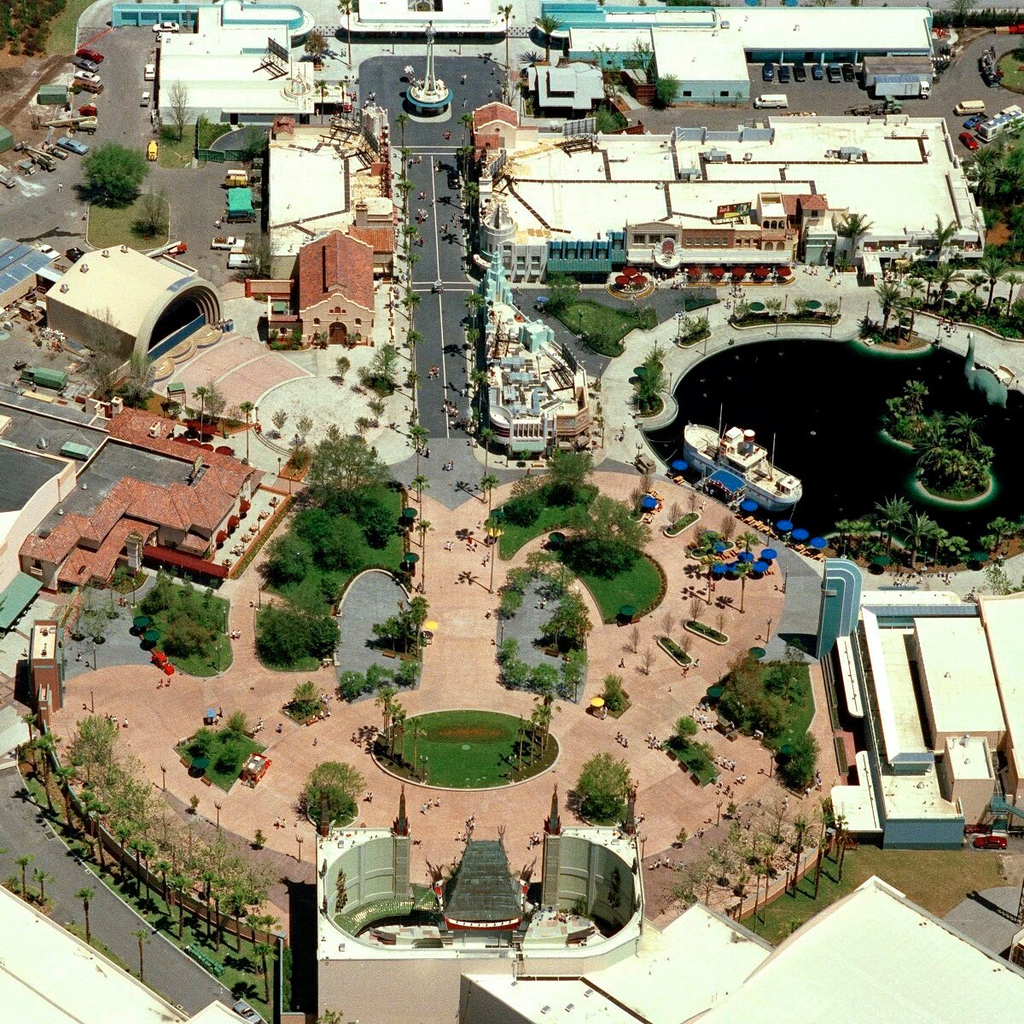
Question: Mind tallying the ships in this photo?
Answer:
1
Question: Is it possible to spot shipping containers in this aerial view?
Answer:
Yes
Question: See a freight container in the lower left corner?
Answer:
No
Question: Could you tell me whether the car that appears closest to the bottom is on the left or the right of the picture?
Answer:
left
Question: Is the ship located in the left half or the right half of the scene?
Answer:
right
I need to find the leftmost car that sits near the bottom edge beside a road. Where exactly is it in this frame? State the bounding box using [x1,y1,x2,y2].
[231,993,266,1023]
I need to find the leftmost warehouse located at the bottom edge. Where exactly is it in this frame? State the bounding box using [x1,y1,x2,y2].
[0,887,198,1024]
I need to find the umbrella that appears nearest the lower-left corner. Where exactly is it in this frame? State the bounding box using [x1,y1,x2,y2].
[189,758,210,779]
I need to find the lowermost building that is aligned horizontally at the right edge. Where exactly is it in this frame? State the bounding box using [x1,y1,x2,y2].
[702,877,1024,1024]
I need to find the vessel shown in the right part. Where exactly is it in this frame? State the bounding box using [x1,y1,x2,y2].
[684,391,805,505]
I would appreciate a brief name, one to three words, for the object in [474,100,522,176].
building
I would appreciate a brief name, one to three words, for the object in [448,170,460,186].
vehicle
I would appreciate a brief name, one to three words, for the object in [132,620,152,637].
umbrella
